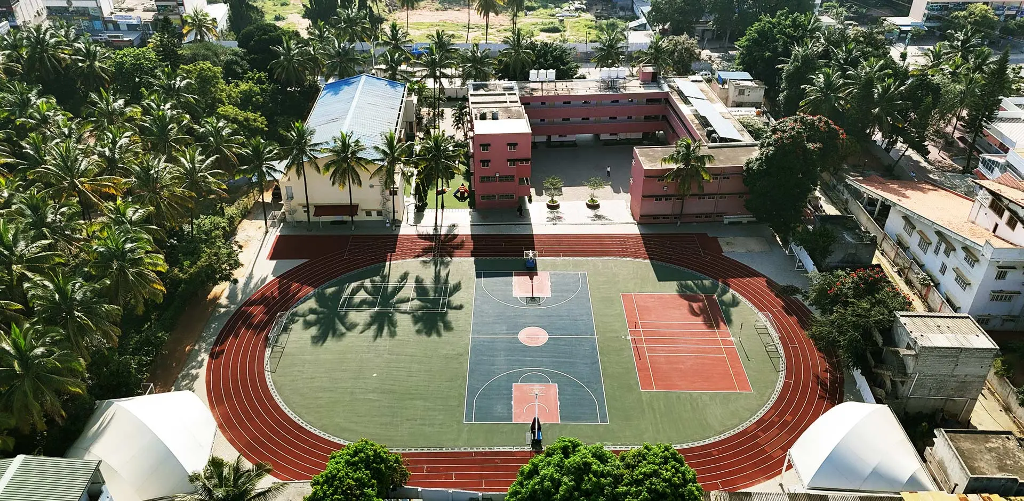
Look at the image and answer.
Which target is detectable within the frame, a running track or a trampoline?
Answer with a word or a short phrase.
running track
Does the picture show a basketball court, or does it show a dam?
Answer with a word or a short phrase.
basketball court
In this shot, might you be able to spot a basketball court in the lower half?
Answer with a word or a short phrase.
Yes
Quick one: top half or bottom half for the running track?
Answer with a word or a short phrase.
bottom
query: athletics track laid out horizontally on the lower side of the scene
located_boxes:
[211,233,837,491]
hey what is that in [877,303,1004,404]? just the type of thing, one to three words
house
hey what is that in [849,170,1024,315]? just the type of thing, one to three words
house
